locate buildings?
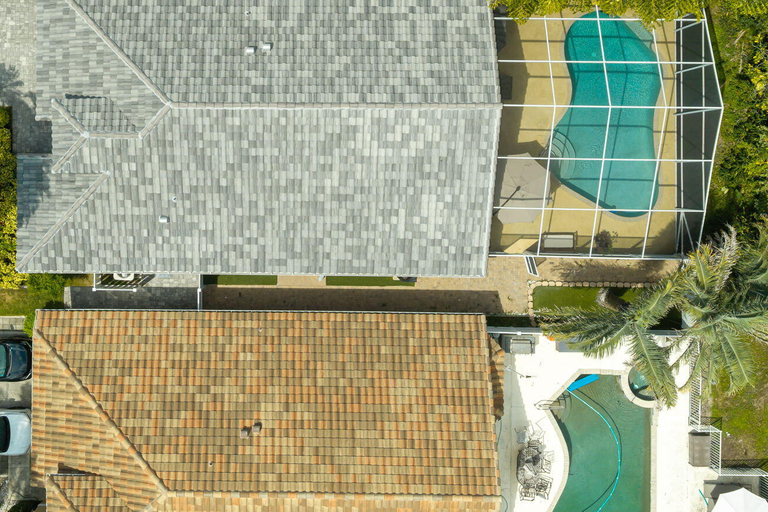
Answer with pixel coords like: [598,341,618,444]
[28,308,506,512]
[15,0,503,277]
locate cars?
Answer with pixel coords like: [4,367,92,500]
[0,407,29,452]
[0,335,29,381]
